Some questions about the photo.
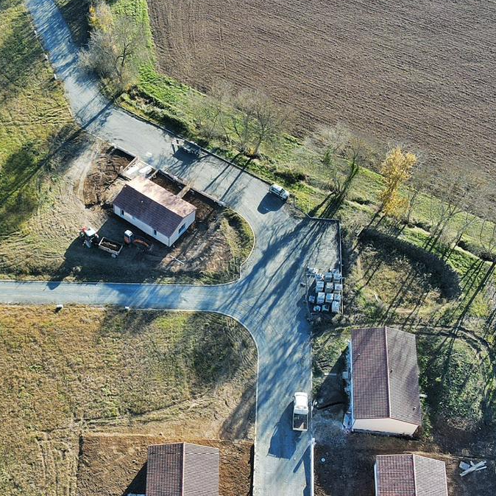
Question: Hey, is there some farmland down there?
Yes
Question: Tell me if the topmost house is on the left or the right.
left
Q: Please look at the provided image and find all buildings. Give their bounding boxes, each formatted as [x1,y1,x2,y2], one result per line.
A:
[113,175,196,253]
[374,455,449,496]
[145,442,220,496]
[349,327,423,432]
